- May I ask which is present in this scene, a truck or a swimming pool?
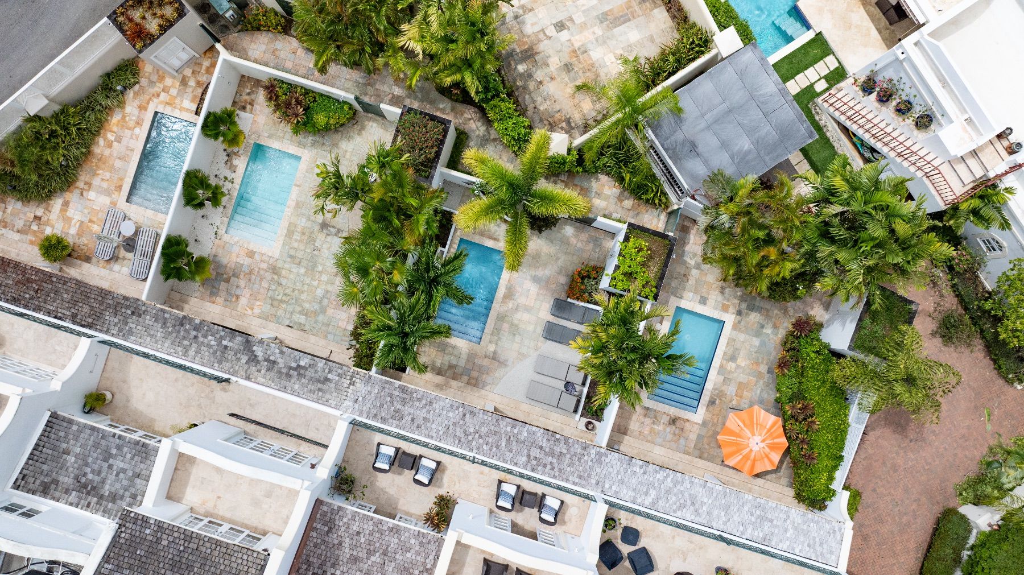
swimming pool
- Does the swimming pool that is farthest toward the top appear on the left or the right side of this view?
right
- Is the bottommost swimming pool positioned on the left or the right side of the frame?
right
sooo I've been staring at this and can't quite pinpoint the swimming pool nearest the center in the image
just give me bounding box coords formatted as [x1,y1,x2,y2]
[423,226,517,357]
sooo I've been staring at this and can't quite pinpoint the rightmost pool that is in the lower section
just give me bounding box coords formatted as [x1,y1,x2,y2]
[635,293,738,427]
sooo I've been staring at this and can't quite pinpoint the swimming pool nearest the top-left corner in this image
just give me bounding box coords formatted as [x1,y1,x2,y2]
[113,99,201,226]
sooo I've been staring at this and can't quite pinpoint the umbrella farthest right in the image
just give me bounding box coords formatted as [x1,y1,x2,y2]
[715,403,788,475]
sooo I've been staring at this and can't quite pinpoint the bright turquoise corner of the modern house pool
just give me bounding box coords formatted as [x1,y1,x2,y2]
[725,0,825,66]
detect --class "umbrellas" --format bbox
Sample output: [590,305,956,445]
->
[715,403,788,475]
[93,237,136,252]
